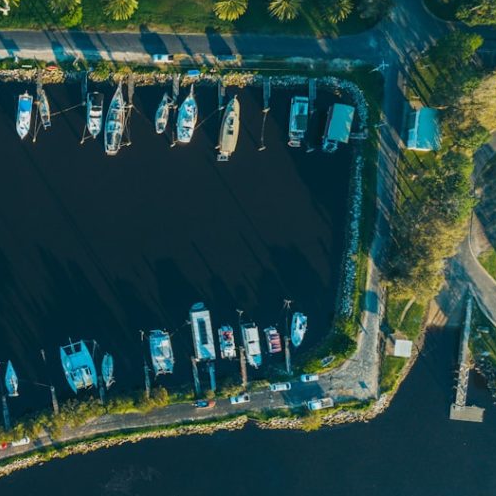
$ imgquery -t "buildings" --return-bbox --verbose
[388,339,411,358]
[401,108,447,152]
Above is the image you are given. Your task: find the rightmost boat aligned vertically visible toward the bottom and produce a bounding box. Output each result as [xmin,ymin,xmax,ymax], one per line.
[292,311,309,348]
